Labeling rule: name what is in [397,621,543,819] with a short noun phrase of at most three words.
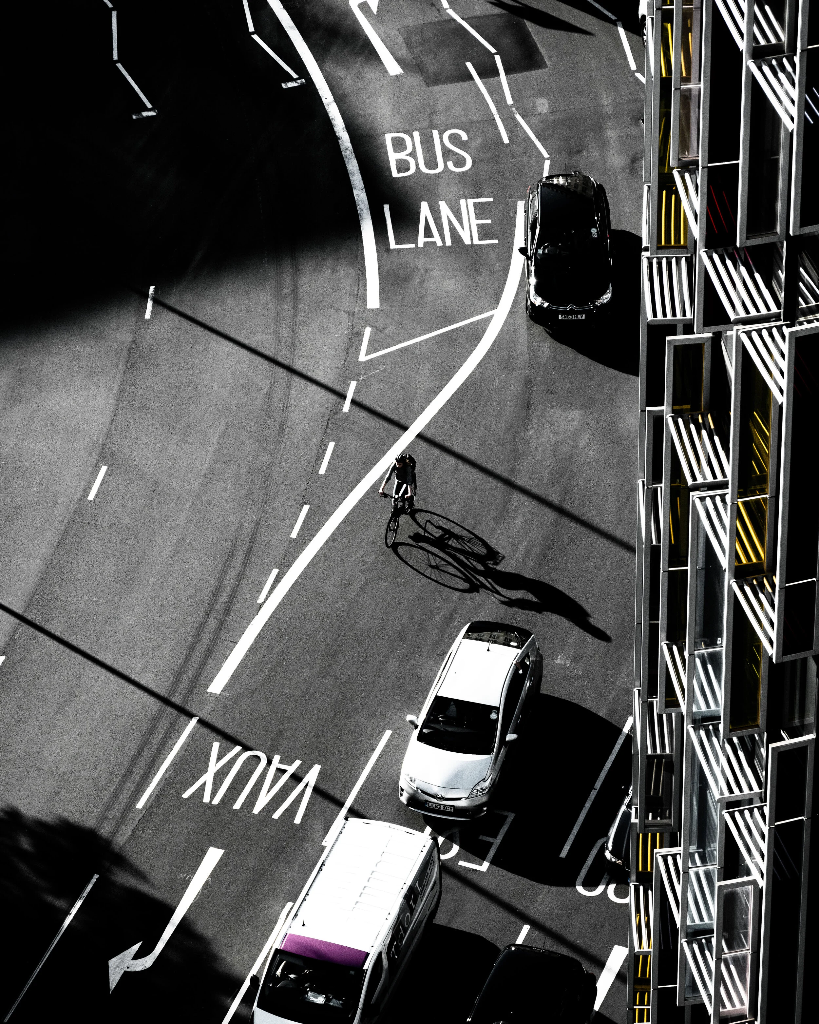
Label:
car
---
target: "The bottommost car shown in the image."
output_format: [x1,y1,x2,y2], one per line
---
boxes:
[462,932,599,1024]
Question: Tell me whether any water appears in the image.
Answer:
No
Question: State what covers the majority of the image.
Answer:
paved ground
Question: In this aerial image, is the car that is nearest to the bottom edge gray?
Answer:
No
